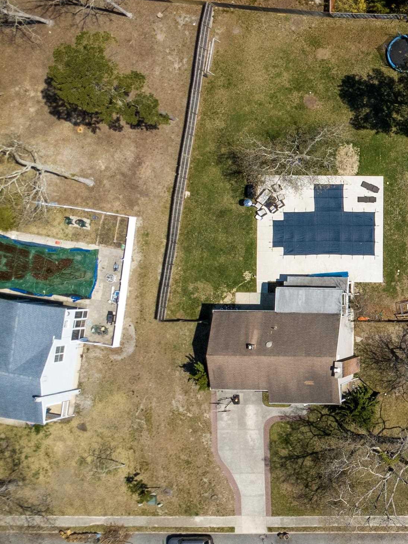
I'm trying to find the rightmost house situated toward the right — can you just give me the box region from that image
[206,276,369,405]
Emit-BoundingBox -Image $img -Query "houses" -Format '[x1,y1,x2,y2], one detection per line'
[206,276,369,405]
[0,286,89,431]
